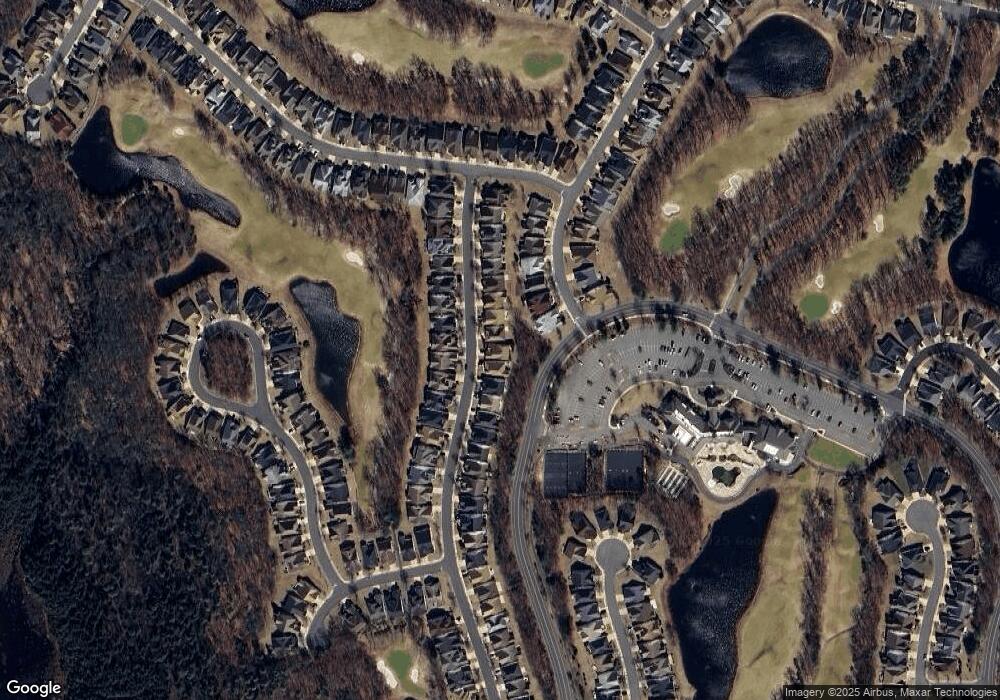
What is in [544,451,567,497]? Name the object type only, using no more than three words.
tennis court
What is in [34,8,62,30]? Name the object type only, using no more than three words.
house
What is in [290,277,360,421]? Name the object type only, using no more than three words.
pond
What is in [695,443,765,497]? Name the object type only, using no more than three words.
swimming pool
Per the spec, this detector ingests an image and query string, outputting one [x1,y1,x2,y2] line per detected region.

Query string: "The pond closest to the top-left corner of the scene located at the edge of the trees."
[68,105,241,227]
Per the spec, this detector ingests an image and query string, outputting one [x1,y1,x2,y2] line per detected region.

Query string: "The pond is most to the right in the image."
[948,157,1000,307]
